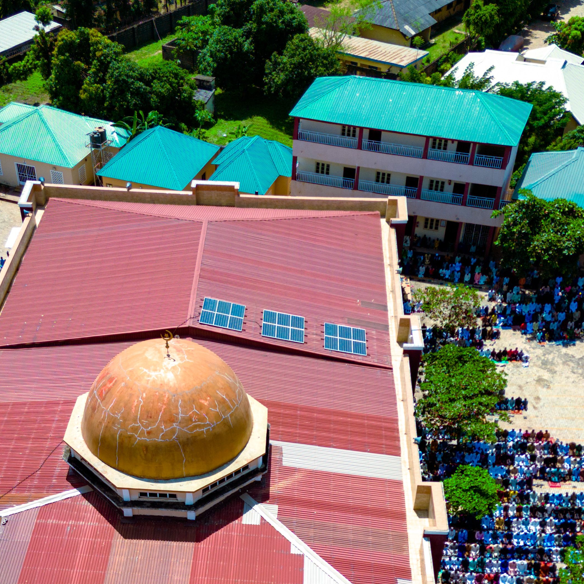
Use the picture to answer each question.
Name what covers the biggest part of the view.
buildings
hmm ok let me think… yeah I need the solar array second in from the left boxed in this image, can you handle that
[258,309,309,343]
